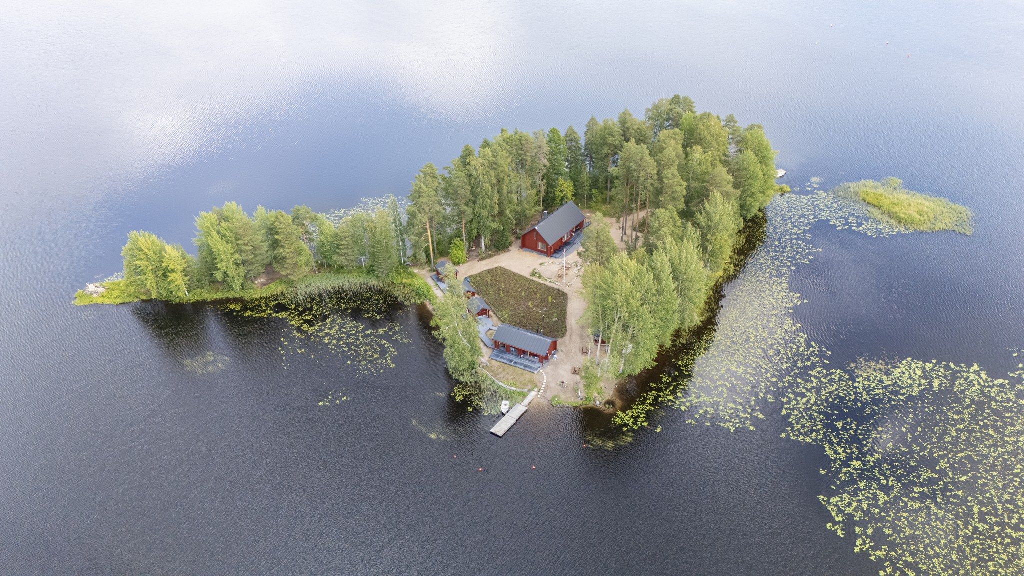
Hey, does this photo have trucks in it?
No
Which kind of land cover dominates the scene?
water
